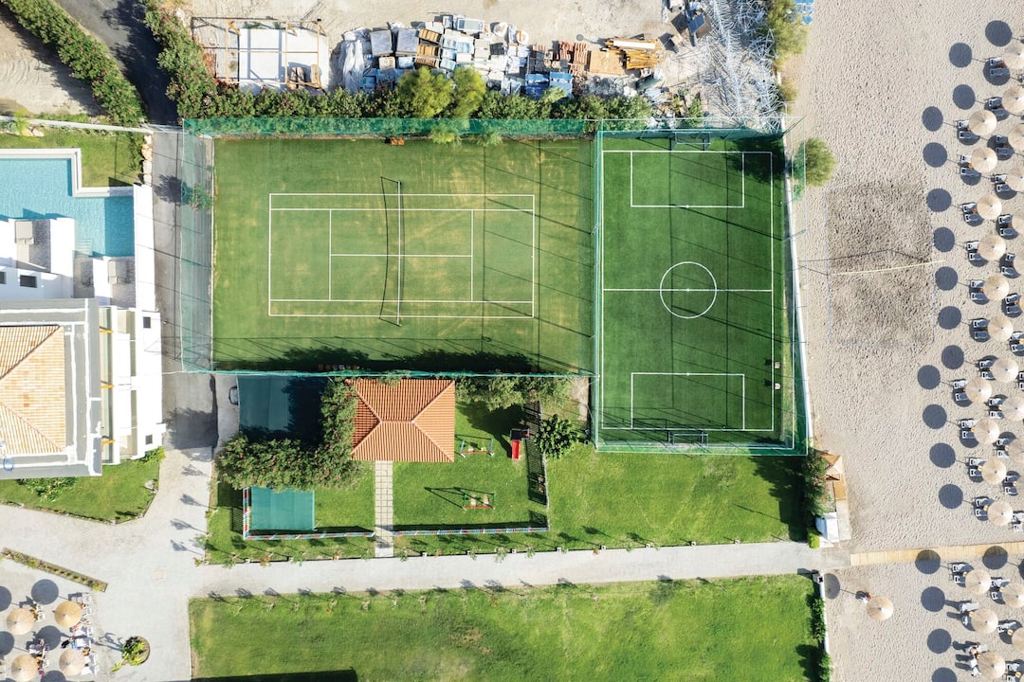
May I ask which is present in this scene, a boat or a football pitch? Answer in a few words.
football pitch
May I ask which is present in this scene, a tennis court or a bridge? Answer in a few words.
tennis court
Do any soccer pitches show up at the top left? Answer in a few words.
No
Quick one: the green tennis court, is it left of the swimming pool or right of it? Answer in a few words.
on the right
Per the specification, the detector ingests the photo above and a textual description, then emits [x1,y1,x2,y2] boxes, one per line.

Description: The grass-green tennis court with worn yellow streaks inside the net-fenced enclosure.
[215,135,593,369]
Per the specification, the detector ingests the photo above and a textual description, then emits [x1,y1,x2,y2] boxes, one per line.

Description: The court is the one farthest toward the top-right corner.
[825,184,937,337]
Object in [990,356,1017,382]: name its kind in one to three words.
umbrella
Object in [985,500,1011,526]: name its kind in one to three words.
umbrella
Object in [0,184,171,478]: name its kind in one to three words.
house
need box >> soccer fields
[594,136,783,444]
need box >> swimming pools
[0,149,132,257]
